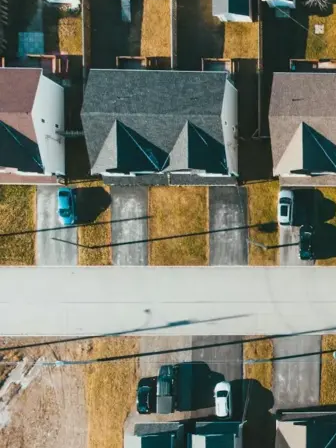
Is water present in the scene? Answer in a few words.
No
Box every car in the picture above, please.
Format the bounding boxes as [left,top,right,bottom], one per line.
[297,225,315,260]
[277,190,295,226]
[56,188,77,224]
[137,382,155,416]
[213,381,232,419]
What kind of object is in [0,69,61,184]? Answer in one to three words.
house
